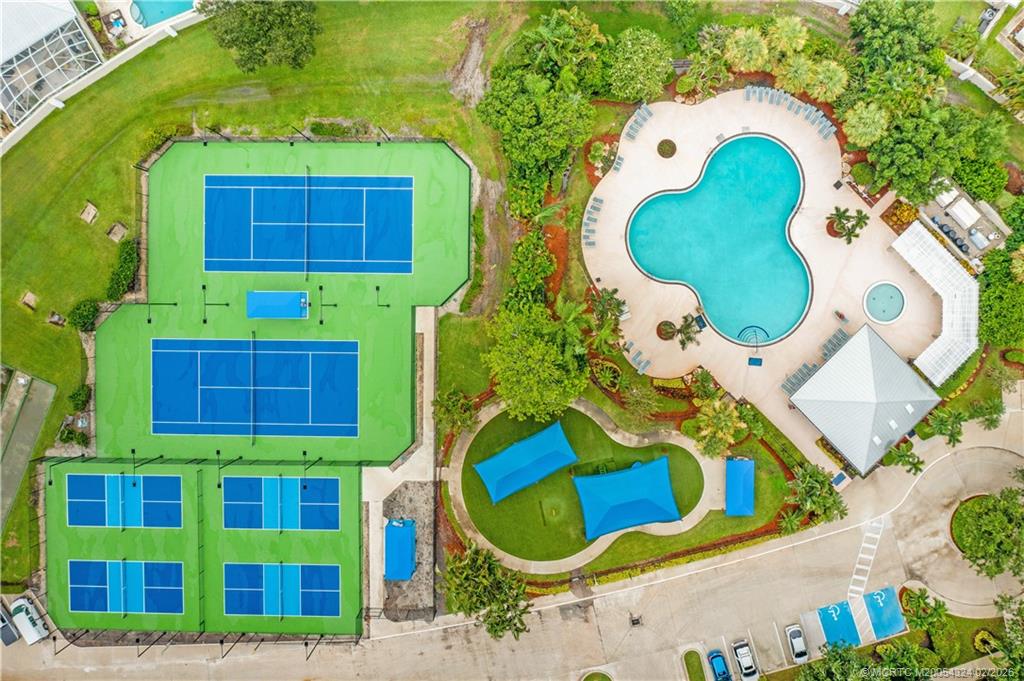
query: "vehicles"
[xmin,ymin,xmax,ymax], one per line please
[0,599,21,646]
[12,598,51,648]
[705,653,730,681]
[729,643,756,681]
[784,624,809,664]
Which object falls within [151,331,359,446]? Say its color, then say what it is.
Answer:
blue tennis court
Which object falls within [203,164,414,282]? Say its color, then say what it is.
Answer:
blue tennis court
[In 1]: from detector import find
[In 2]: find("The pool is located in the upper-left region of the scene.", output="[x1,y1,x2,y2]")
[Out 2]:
[126,0,199,30]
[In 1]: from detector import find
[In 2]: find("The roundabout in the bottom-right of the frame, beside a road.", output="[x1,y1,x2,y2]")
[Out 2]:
[949,487,1024,576]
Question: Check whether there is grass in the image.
Yes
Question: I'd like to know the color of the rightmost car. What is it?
white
